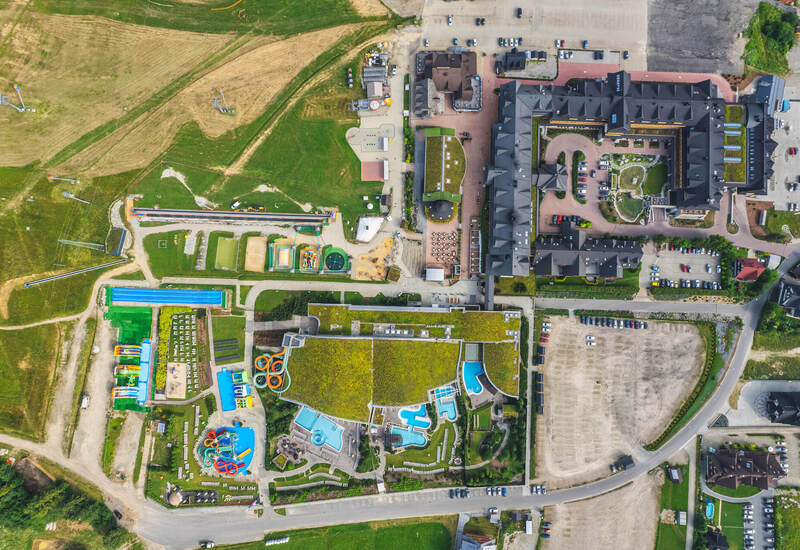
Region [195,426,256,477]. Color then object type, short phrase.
blue swimming pool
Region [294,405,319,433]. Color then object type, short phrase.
blue swimming pool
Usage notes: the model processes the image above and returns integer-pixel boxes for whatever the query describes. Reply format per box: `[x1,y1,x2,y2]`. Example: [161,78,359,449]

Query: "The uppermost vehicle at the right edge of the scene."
[775,100,791,112]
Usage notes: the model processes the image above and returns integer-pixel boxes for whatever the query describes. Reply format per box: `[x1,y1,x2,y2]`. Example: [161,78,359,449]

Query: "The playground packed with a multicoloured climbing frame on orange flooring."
[294,248,322,273]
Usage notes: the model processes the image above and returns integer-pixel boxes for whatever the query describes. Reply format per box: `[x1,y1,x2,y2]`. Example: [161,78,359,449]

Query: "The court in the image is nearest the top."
[362,161,383,180]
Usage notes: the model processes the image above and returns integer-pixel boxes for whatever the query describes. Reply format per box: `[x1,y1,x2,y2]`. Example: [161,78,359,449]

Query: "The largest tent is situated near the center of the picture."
[355,218,383,242]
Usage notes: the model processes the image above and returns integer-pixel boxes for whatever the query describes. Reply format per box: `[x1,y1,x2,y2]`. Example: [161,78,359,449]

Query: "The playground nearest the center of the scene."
[355,238,394,280]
